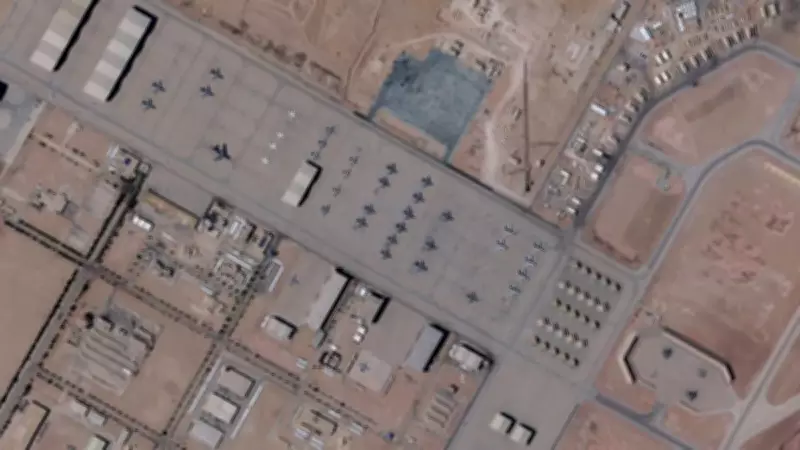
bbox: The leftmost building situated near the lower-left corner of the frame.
[3,402,49,450]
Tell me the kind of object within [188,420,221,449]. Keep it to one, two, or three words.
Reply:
building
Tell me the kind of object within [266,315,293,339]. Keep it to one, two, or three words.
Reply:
building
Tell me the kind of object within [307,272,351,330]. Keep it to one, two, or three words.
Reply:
hangar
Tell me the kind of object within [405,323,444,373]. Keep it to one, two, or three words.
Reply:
hangar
